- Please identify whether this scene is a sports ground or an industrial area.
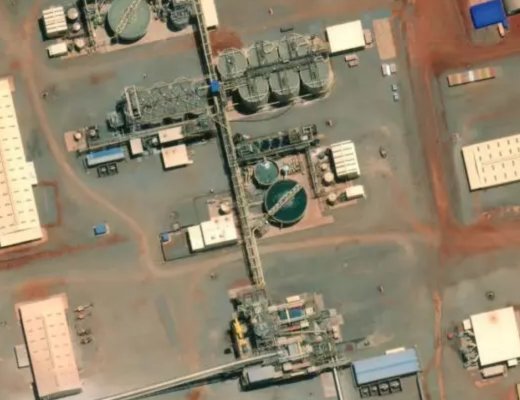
industrial area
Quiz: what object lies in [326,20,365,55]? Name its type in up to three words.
building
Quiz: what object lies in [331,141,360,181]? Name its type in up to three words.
building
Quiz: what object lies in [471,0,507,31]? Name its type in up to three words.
shed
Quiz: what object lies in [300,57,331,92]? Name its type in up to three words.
storage tank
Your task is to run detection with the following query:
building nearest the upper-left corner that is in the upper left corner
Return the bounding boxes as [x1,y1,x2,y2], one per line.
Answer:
[43,7,67,38]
